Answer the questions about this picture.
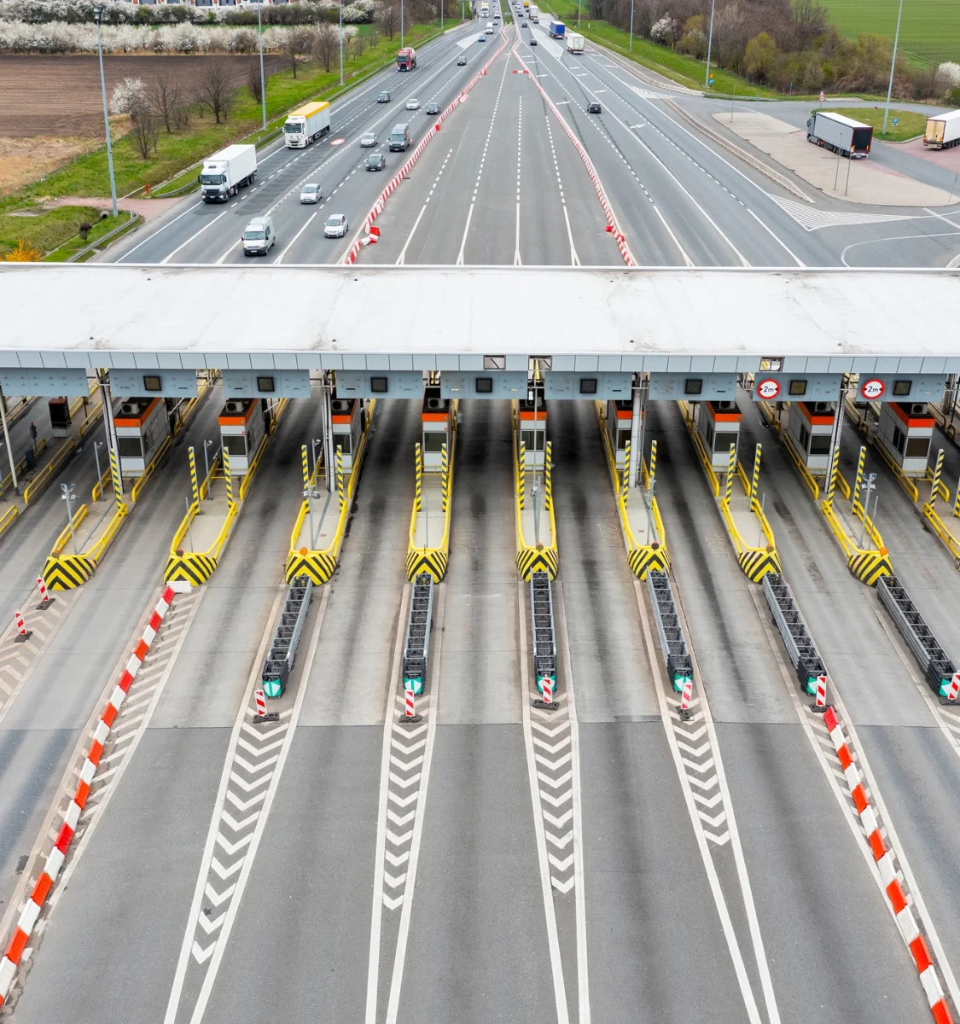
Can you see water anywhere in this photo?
No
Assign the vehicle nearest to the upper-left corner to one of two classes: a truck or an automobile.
truck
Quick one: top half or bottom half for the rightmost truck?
top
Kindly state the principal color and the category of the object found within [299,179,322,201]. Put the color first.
white car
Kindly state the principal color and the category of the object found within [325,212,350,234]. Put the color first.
white car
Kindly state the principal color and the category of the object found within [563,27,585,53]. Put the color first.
white truck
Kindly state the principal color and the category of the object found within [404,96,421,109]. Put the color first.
white vehicle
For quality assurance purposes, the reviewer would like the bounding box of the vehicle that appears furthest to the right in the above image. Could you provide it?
[925,105,960,148]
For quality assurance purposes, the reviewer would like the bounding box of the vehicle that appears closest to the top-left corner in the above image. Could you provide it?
[198,148,248,200]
